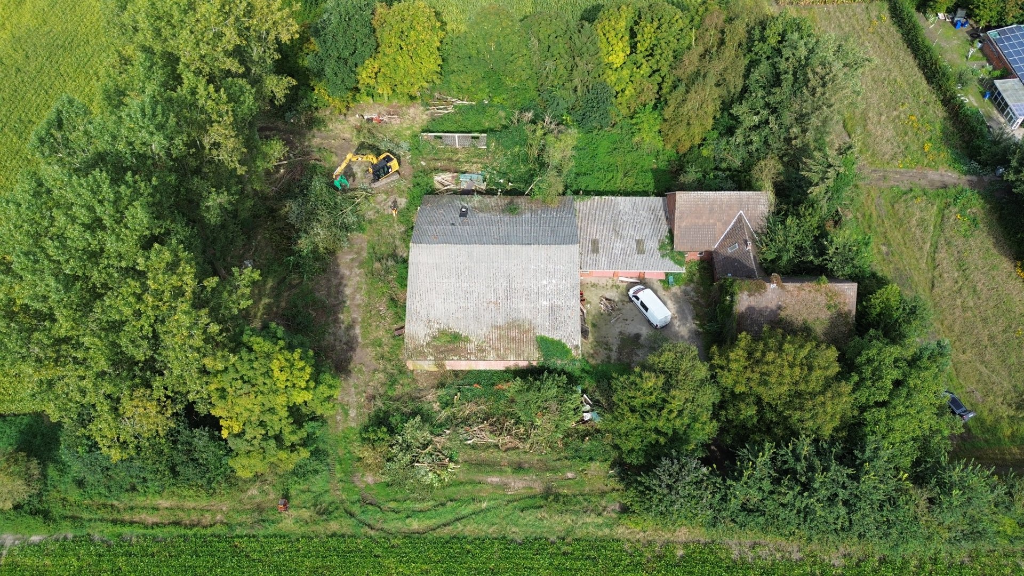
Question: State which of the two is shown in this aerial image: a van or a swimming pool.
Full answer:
This aerial view contains a van.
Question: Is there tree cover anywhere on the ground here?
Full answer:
Yes, tree cover shows up in the scene.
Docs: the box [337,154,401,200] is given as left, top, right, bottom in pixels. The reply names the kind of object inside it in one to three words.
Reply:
work vehicle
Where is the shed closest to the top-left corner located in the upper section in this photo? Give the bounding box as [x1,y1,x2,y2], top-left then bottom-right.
[420,133,487,151]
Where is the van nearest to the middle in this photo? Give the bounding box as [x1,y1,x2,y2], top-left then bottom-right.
[627,287,673,329]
